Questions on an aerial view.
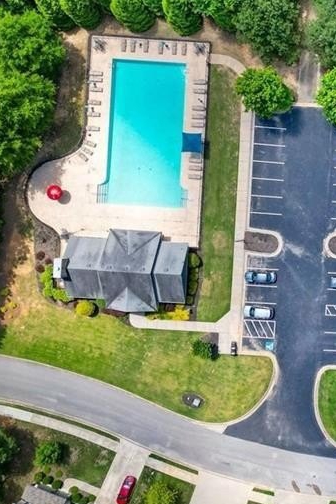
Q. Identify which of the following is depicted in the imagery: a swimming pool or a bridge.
swimming pool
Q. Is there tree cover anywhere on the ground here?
Yes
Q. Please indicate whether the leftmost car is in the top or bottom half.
bottom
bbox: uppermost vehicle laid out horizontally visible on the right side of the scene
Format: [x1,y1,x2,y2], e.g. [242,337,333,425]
[246,270,277,284]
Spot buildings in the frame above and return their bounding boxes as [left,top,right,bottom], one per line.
[13,481,75,504]
[51,230,194,312]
